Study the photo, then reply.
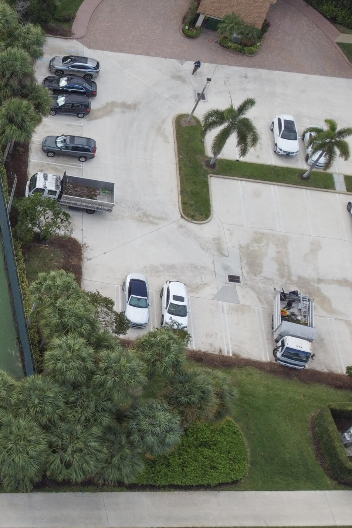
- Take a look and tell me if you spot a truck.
Yes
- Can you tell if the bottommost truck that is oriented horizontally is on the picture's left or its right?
left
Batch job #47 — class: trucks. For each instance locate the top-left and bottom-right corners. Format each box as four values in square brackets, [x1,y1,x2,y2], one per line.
[272,292,321,374]
[30,172,117,215]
